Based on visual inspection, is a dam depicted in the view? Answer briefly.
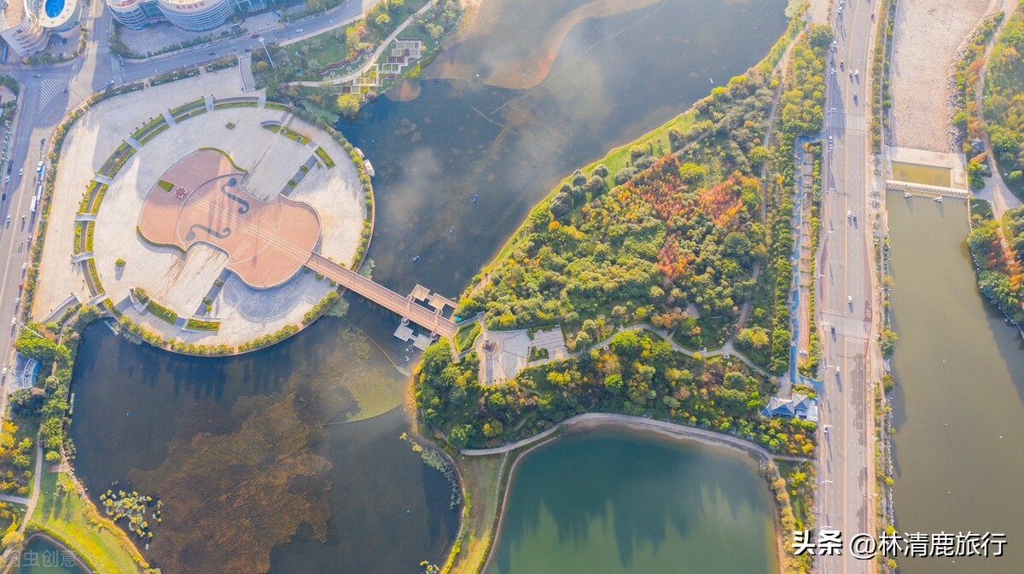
Yes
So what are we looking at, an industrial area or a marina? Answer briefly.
marina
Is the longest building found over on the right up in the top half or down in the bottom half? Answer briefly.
bottom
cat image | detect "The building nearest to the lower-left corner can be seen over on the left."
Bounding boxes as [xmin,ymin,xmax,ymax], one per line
[20,356,39,387]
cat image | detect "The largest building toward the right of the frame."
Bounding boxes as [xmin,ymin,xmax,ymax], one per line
[765,391,821,420]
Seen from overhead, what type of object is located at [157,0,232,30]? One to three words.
building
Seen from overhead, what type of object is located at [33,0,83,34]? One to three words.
building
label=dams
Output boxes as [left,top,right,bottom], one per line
[886,147,969,204]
